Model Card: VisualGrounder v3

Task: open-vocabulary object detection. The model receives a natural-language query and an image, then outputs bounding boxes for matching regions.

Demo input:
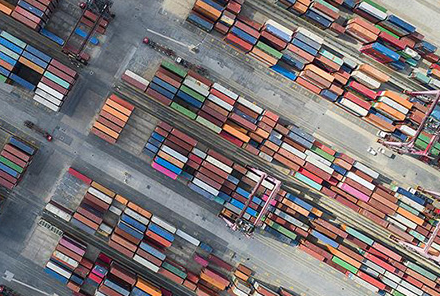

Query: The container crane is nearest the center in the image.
[214,163,282,240]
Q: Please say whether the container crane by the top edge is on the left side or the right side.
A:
left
